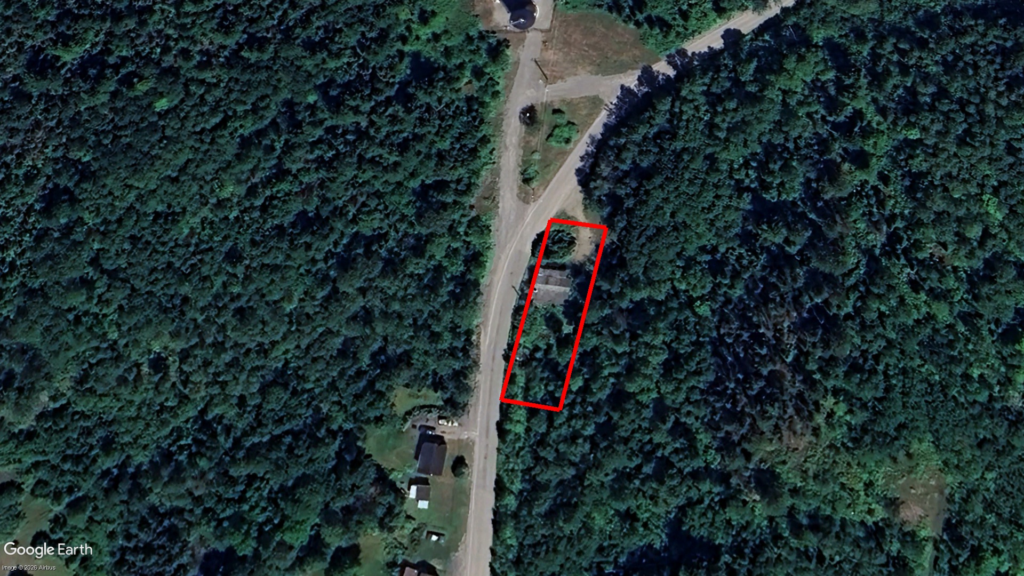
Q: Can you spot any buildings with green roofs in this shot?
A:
No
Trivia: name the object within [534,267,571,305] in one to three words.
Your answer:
house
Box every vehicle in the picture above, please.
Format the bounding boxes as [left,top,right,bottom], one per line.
[420,426,436,434]
[438,419,457,426]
